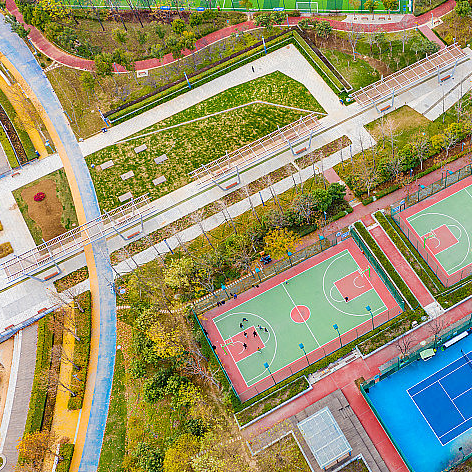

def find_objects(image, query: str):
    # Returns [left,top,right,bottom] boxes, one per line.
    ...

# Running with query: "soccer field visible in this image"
[0,0,413,16]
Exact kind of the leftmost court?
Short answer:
basketball court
